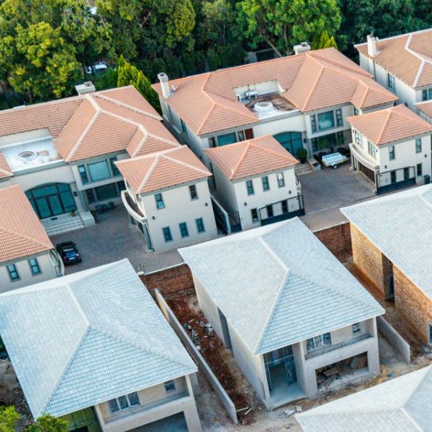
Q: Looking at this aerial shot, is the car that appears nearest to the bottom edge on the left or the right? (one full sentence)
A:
The car that appears nearest to the bottom edge appears in the left half of the scene.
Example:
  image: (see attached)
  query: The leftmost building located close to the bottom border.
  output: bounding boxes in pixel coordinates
[0,260,202,432]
